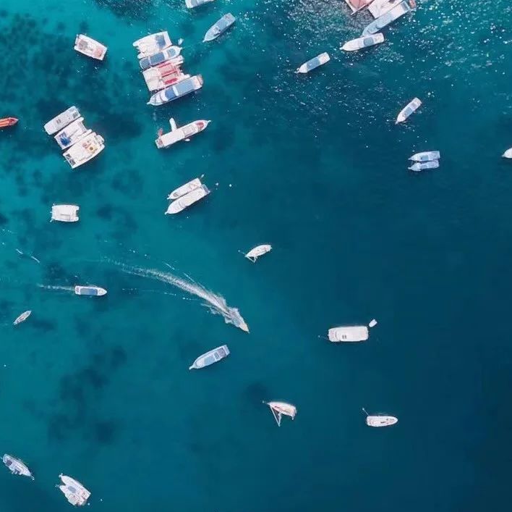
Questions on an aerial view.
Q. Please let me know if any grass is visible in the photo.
No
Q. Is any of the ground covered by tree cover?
No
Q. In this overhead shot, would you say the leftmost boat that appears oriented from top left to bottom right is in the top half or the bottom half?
bottom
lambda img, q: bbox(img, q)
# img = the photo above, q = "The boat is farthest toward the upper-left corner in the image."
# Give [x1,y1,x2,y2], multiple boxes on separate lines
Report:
[73,35,107,60]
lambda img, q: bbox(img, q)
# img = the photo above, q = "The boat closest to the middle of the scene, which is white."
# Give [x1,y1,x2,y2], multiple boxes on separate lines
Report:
[246,244,273,261]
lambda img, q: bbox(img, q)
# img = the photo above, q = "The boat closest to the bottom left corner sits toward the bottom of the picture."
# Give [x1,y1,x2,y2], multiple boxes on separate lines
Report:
[0,455,33,479]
